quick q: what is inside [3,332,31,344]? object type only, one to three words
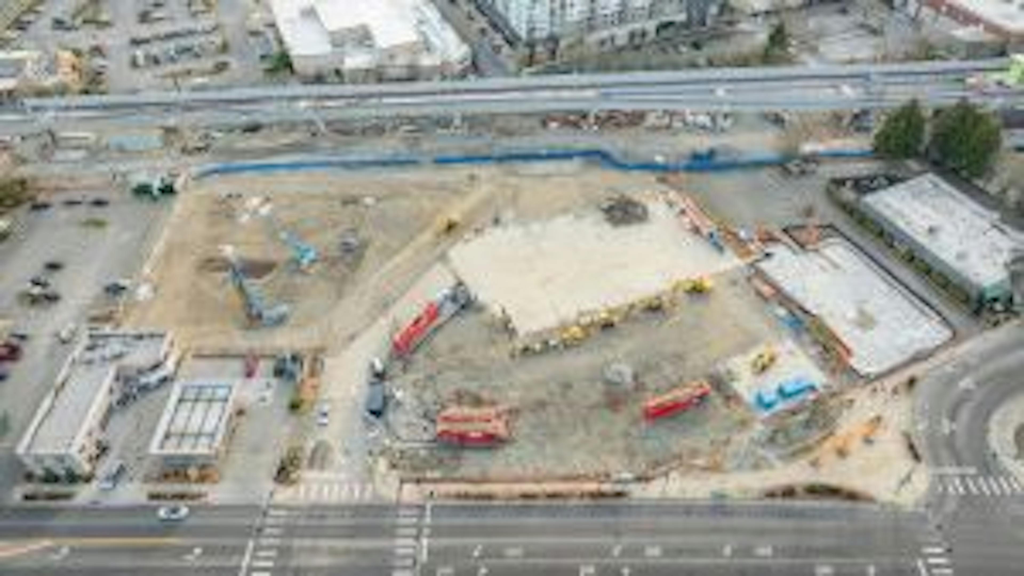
vehicle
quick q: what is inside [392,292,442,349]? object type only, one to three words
trailer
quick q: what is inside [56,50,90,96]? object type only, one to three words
building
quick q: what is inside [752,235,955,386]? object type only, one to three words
warehouse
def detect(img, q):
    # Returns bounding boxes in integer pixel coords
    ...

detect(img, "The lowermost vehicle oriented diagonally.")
[99,465,126,493]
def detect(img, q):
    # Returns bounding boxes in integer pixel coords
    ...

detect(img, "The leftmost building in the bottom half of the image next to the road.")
[17,330,180,477]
